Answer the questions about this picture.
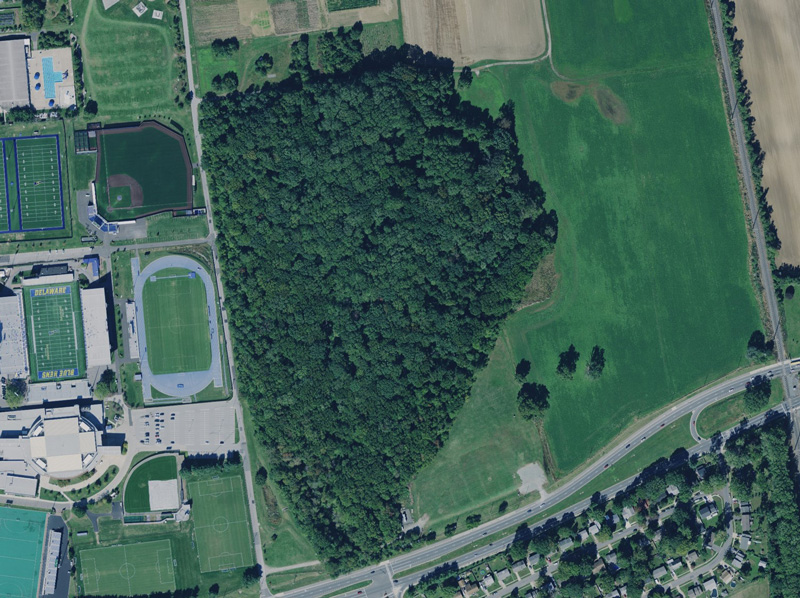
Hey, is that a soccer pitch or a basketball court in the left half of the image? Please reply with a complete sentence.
You can see a soccer pitch in the left half of the image.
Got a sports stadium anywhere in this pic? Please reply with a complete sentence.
Yes, a sports stadium can be made out from above.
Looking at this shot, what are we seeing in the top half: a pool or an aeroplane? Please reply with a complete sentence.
The feature located in the top half is a pool.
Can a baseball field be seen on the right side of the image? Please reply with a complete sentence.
No, no baseball field is visible on the right side of the image.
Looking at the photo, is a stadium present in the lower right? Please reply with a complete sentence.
No, I see no stadium in the lower right.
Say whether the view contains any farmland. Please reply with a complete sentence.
Yes, farmland shows up in the scene.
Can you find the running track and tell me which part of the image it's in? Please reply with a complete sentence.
The running track sits in the left section of the image.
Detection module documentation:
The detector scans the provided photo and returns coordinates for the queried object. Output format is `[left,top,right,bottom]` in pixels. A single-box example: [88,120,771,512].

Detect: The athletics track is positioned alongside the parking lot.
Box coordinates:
[131,256,223,402]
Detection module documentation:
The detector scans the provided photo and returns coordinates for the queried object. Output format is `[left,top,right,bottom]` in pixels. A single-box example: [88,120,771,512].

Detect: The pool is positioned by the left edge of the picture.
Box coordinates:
[29,47,76,109]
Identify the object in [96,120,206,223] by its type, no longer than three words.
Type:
baseball field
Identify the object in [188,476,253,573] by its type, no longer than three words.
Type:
soccer field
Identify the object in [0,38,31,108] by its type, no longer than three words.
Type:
building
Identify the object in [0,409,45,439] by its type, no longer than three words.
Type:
building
